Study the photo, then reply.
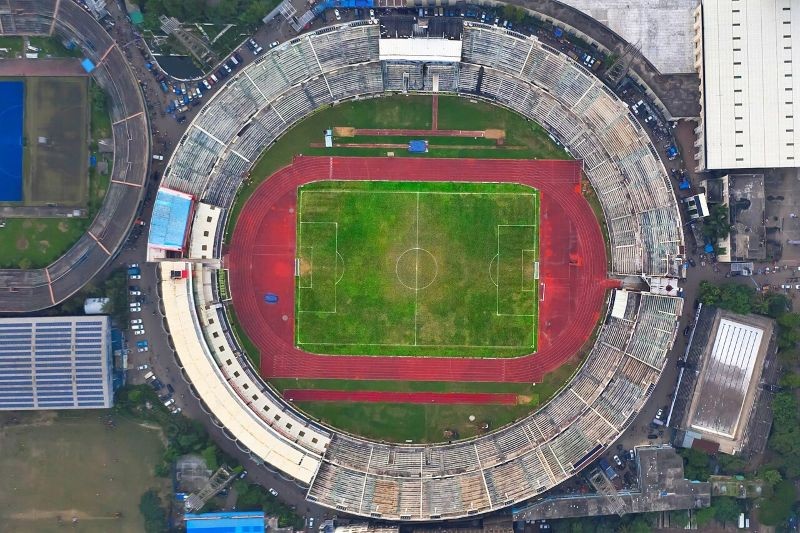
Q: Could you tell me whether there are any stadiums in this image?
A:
Yes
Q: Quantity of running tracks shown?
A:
1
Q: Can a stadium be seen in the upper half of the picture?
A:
Yes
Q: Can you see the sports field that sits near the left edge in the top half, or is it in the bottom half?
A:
top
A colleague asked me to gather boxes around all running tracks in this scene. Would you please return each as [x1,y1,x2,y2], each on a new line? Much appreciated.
[223,157,609,382]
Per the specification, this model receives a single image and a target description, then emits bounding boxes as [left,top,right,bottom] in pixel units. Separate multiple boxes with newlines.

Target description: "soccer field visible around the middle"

[295,181,539,358]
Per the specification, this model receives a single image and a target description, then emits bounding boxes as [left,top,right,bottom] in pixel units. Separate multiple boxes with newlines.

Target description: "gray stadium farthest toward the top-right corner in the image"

[146,8,686,521]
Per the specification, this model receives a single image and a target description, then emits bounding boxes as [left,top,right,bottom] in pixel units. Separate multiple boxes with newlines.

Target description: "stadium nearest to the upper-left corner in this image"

[0,0,158,315]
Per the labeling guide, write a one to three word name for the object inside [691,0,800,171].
building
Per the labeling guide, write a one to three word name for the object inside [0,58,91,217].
sports field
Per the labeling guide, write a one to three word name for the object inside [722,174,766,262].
building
